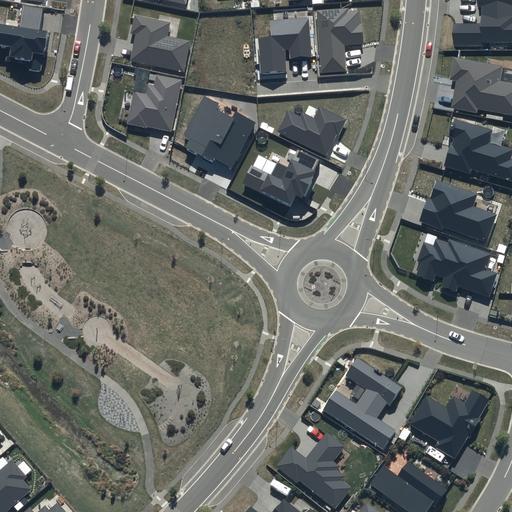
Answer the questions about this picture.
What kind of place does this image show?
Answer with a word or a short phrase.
residential area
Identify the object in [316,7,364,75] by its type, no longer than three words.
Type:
house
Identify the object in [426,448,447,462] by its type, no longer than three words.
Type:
camper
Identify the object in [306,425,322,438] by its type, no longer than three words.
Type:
vehicle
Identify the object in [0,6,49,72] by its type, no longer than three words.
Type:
house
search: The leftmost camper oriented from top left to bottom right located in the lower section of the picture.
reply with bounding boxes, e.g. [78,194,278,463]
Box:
[270,480,291,496]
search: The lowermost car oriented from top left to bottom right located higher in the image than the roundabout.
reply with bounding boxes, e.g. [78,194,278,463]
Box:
[333,144,349,158]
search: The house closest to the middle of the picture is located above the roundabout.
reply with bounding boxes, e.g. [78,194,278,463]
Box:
[242,150,318,210]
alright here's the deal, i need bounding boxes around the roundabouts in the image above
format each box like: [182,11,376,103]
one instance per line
[276,238,368,330]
